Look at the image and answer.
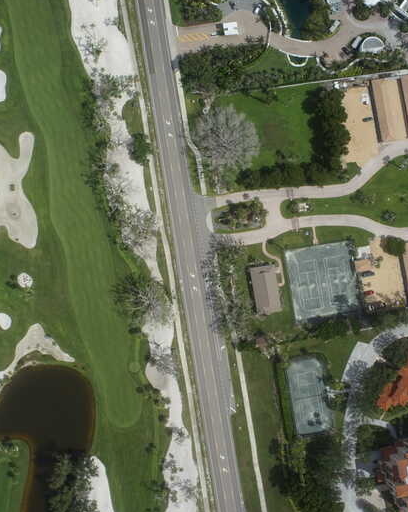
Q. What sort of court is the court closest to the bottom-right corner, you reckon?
tennis court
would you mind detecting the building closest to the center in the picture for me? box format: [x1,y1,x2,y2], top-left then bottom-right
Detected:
[250,264,287,315]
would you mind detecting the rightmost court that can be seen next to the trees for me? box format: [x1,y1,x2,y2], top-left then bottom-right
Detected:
[316,241,361,314]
